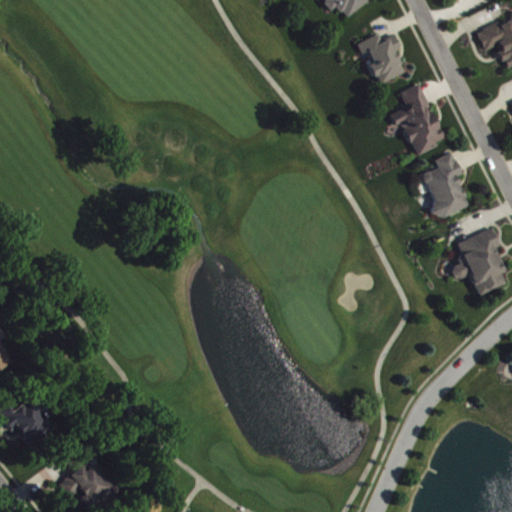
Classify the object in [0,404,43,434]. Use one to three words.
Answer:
house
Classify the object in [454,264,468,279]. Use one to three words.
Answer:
gazebo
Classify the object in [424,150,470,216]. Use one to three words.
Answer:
house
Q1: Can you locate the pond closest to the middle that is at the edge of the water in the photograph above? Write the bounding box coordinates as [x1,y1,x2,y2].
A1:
[189,250,364,472]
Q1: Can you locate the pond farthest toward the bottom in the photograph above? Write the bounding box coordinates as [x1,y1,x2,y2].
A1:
[408,420,512,512]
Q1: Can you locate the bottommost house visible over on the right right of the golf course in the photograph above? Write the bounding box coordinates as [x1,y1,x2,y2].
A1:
[458,226,511,290]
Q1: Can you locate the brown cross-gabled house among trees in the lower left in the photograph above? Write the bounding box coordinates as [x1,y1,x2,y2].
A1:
[69,466,114,501]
